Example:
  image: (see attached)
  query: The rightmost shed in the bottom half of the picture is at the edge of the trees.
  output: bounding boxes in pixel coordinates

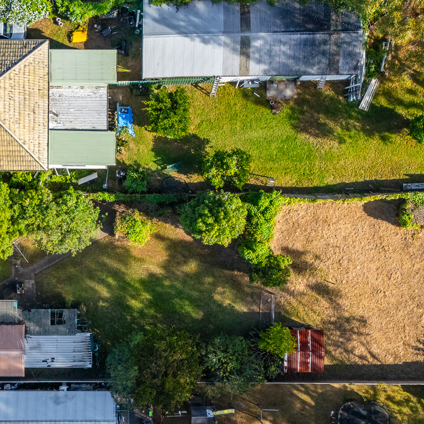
[285,330,327,373]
